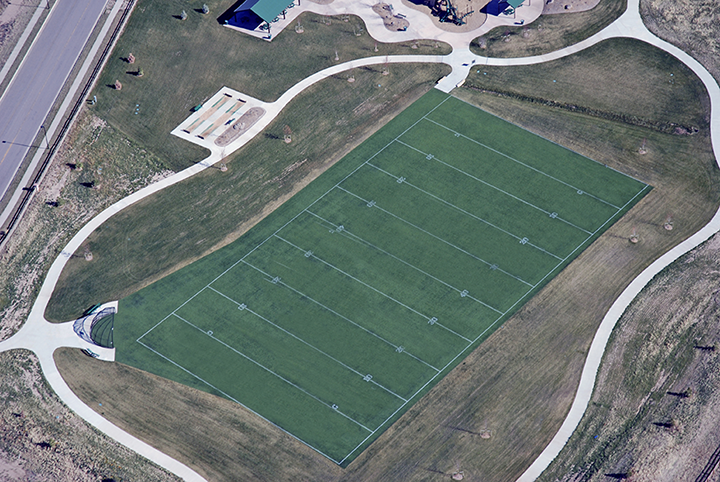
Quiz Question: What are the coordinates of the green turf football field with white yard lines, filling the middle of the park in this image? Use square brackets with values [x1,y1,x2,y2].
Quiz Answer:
[91,87,654,470]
